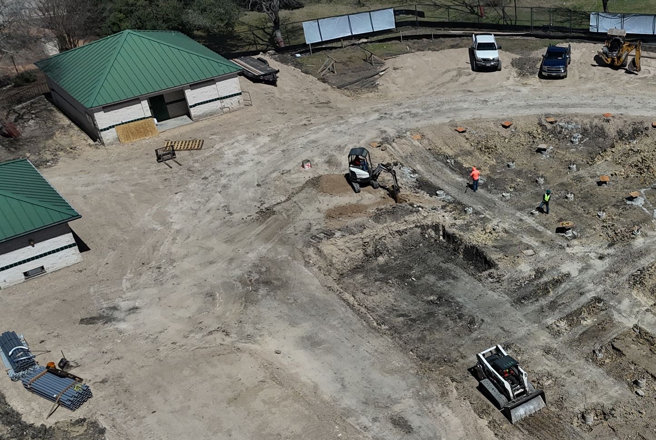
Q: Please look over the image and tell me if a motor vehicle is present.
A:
Yes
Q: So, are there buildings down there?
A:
Yes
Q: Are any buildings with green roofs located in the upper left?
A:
Yes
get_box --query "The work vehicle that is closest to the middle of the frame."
[342,148,395,197]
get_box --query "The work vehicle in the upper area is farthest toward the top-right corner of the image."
[595,28,644,73]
